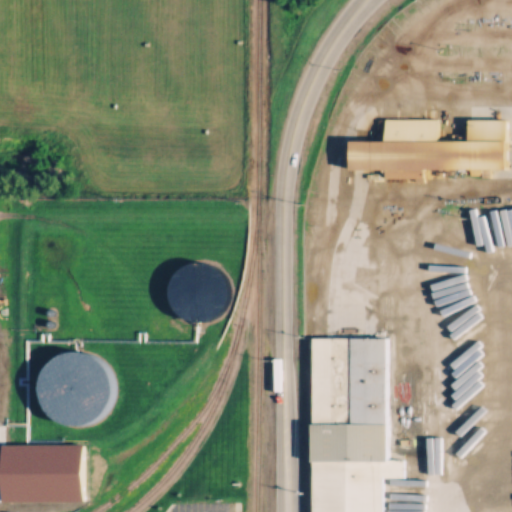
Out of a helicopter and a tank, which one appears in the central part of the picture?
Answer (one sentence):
It is a tank that can be seen in the central part of the picture.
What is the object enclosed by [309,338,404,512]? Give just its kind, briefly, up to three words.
building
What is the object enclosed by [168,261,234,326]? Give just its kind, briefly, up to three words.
storage tank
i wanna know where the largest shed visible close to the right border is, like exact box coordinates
[347,119,508,183]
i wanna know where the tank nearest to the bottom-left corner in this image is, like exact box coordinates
[38,351,116,428]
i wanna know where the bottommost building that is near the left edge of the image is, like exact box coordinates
[0,444,88,503]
